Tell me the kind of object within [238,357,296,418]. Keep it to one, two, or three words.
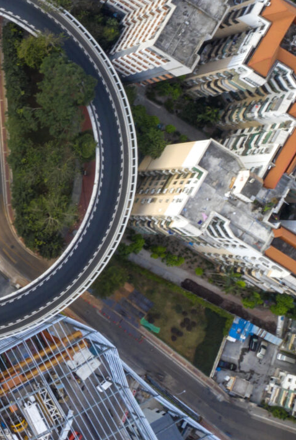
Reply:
building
